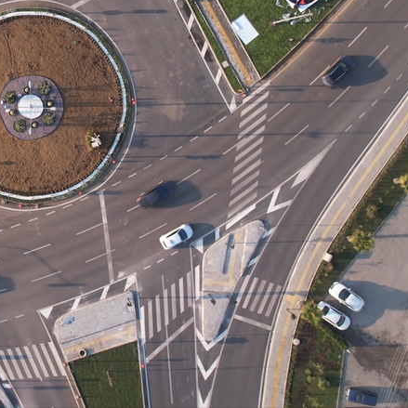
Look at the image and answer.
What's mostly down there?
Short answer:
paved ground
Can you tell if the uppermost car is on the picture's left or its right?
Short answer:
right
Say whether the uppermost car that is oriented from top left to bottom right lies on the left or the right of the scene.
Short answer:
right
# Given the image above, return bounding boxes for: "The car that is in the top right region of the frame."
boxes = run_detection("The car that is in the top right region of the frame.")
[319,54,355,90]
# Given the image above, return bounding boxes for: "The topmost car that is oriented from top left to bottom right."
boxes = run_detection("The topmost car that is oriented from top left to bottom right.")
[327,281,366,313]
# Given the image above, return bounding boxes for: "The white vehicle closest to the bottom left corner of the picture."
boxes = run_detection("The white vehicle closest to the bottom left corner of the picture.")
[158,222,195,251]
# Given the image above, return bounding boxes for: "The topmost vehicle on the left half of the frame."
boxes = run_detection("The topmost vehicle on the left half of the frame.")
[137,180,175,211]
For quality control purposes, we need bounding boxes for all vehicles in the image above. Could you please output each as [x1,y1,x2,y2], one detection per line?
[137,180,175,211]
[327,281,366,313]
[319,54,355,90]
[344,385,380,407]
[316,298,351,333]
[158,222,195,251]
